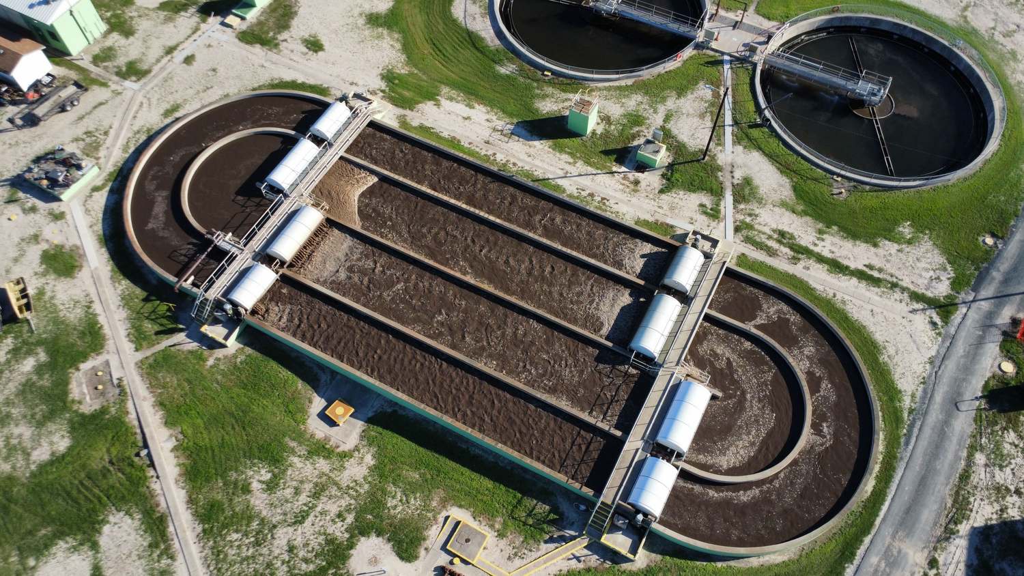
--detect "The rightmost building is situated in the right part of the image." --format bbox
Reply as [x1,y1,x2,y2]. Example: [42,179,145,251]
[636,140,666,167]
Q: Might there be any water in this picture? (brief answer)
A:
Yes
